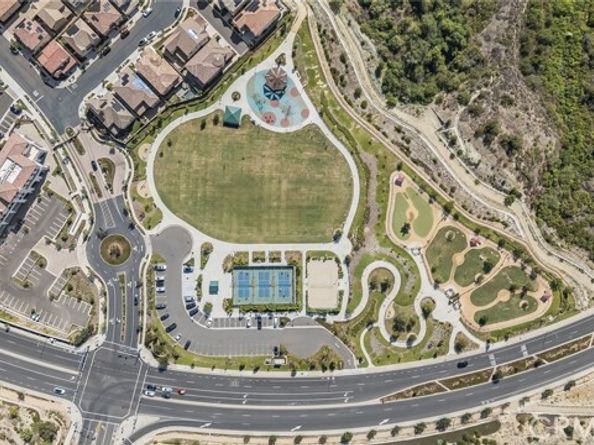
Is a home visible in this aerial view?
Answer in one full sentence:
Yes, looking at the shot, I can spot a home.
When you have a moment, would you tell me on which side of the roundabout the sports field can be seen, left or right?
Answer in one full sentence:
You can see the sports field positioned to the right of the roundabout.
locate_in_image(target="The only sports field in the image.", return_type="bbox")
[154,110,354,245]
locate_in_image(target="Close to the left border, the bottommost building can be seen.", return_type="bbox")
[0,132,54,241]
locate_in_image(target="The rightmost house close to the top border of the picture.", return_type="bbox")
[235,0,280,34]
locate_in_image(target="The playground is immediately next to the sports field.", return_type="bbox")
[247,68,309,128]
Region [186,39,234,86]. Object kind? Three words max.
house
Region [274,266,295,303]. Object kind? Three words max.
sports court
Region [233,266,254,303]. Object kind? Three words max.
sports court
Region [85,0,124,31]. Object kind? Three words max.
house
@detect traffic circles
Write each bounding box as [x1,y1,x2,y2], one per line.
[99,234,131,266]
